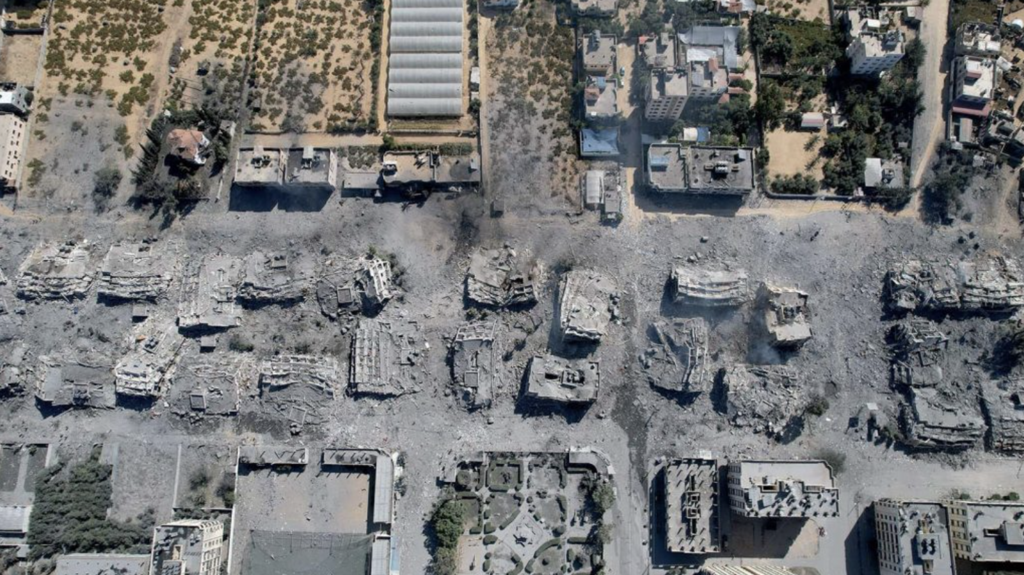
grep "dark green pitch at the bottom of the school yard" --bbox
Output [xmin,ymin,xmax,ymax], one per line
[246,531,374,575]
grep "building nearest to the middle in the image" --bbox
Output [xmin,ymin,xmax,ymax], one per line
[461,243,548,304]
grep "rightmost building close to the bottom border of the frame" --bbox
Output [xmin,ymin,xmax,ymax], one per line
[937,499,1024,562]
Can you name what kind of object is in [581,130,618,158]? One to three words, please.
shed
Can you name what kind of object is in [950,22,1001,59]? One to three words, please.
house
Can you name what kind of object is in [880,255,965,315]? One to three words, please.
building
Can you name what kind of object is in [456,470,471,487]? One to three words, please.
gazebo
